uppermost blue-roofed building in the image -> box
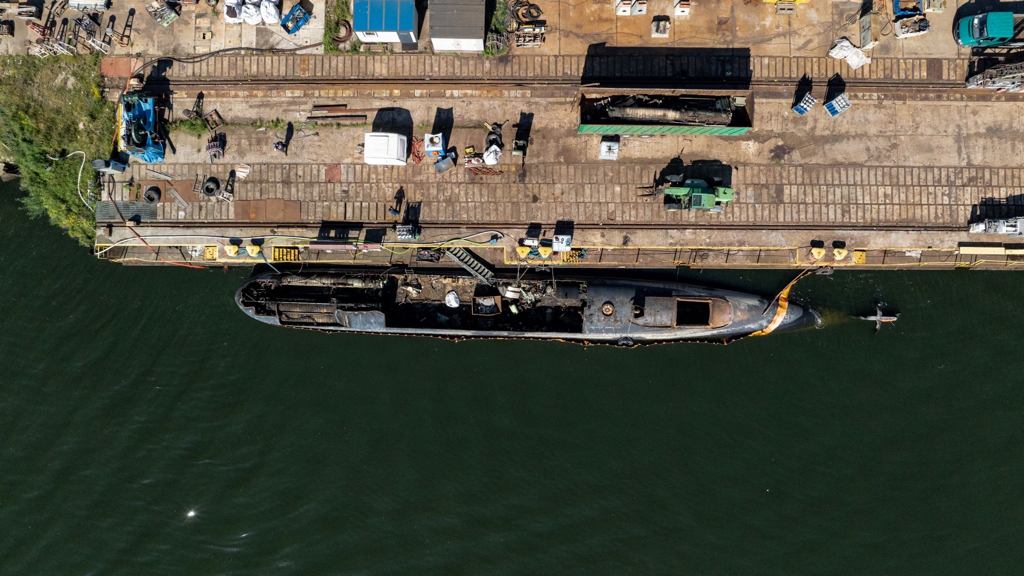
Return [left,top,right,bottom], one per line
[353,0,417,42]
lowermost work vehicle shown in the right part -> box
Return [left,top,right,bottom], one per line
[636,175,734,212]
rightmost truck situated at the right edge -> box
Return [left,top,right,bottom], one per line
[952,11,1024,50]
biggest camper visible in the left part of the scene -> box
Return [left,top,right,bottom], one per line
[354,133,408,165]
